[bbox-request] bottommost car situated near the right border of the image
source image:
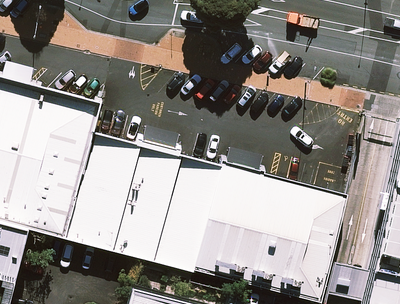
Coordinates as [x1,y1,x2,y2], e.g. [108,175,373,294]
[378,254,400,269]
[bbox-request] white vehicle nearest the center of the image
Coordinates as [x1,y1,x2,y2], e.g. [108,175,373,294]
[207,132,220,158]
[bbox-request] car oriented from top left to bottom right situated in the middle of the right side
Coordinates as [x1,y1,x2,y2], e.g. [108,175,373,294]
[289,124,316,147]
